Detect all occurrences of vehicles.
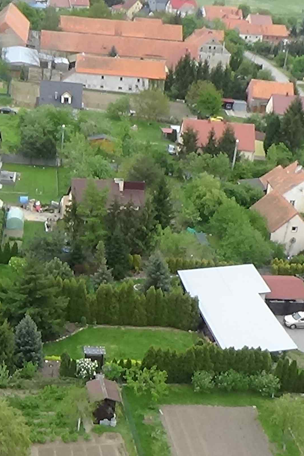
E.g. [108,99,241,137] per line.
[284,311,304,327]
[0,107,18,116]
[165,140,175,152]
[225,102,233,109]
[209,112,225,121]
